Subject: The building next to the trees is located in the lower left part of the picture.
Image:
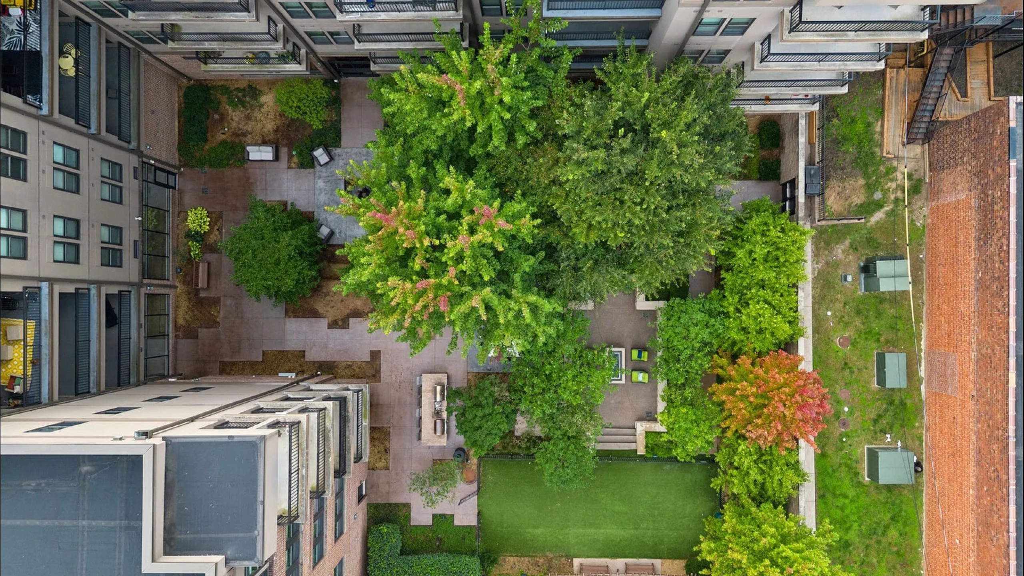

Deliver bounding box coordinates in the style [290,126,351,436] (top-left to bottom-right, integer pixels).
[0,370,370,576]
